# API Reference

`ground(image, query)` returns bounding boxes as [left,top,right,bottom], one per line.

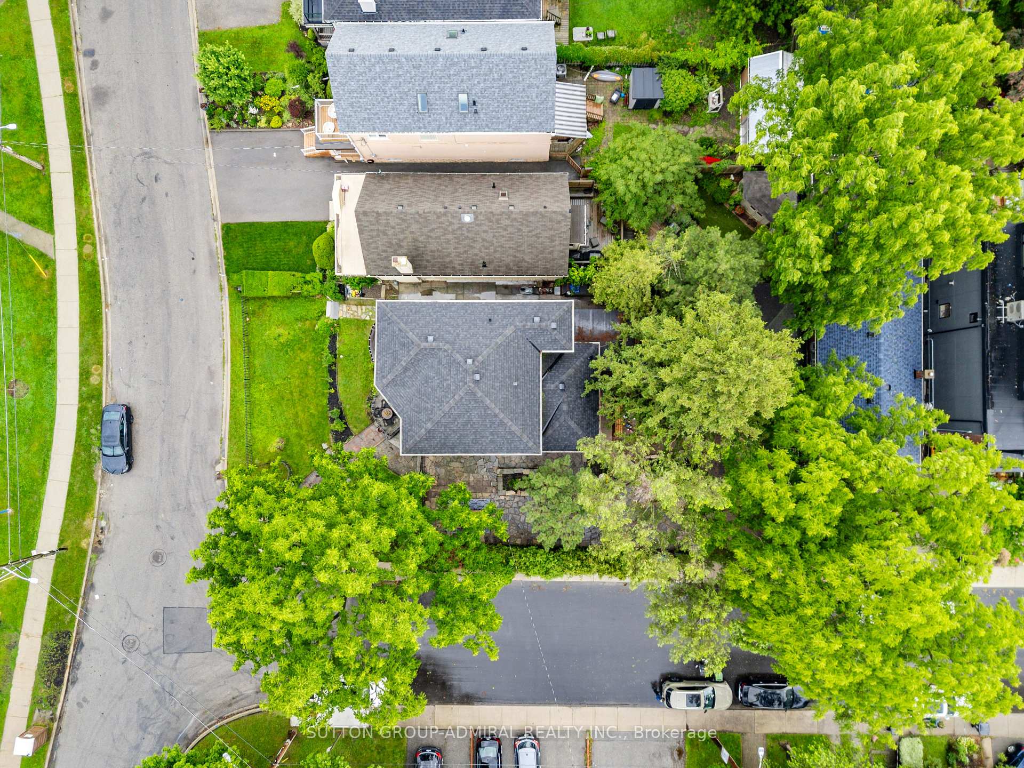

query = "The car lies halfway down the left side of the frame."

[97,402,137,475]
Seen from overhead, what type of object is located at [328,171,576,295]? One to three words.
house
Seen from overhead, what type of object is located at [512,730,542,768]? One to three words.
car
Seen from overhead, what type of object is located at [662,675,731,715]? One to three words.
car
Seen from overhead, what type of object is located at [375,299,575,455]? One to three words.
house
